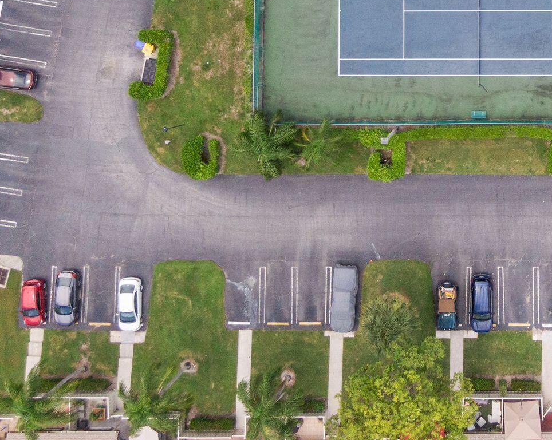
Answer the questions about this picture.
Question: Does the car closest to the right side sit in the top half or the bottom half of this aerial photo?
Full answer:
Seen from above, the car closest to the right side lies in the bottom half of the view.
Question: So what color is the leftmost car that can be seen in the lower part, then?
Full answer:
The color of the leftmost car that can be seen in the lower part is red.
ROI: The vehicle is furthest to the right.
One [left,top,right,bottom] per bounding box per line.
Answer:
[467,274,496,331]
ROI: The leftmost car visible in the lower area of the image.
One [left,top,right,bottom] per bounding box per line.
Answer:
[19,281,50,327]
